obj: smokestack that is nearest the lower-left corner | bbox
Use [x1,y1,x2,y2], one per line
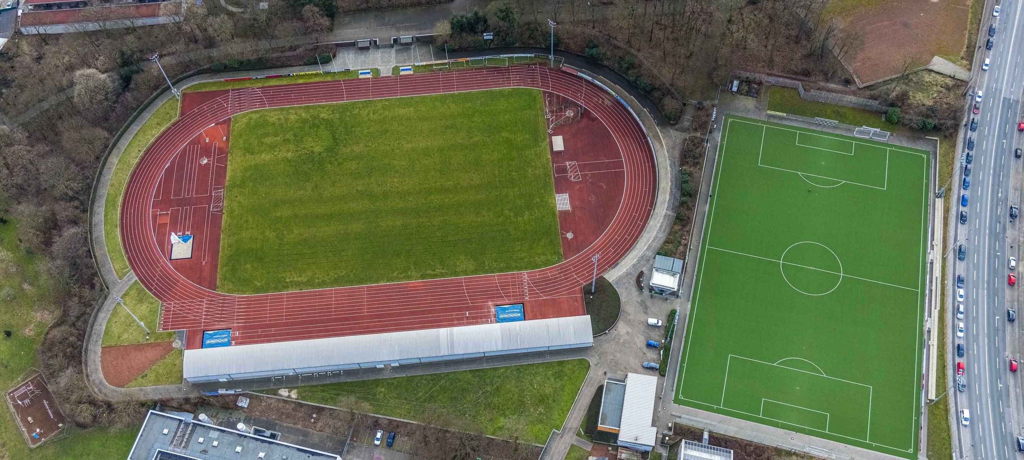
[198,412,214,425]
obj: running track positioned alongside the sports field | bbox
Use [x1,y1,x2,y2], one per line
[119,65,655,351]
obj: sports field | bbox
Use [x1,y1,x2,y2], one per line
[673,114,931,460]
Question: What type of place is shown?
sports ground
